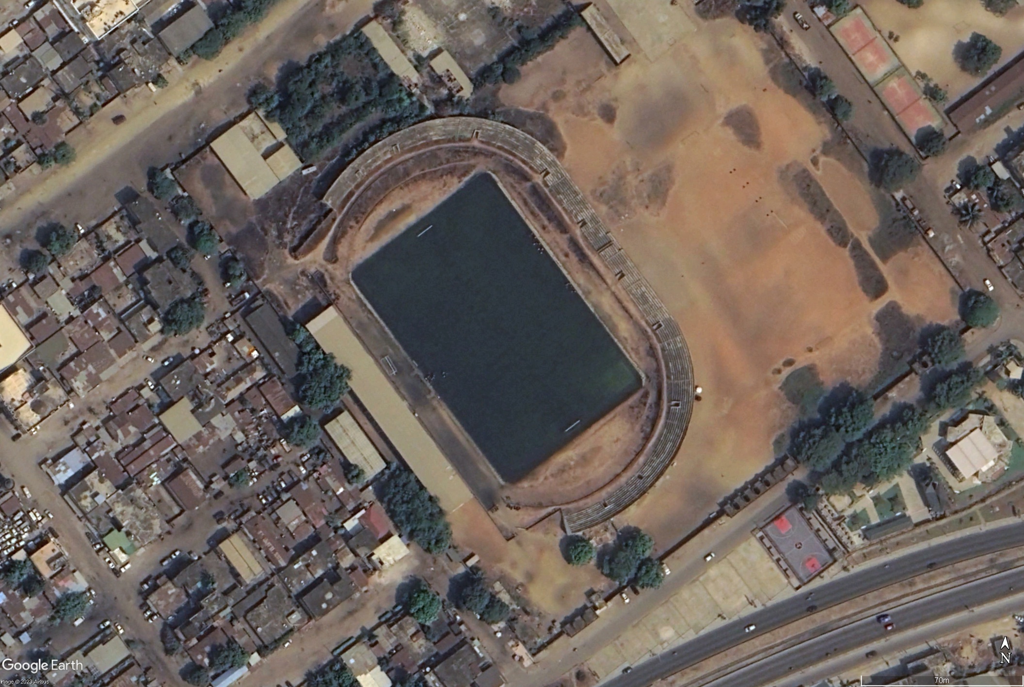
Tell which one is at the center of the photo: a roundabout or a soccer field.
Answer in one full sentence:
Visible at the center of the photo is a soccer field.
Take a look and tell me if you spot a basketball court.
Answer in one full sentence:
Yes, there's a basketball court down there.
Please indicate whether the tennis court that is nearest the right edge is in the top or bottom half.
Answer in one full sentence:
The tennis court that is nearest the right edge is in the top half of the image.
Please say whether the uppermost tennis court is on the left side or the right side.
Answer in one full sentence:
You can find the uppermost tennis court on the right side of the picture.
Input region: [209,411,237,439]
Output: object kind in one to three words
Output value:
house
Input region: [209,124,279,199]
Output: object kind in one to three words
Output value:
building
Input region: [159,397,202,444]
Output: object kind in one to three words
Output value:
house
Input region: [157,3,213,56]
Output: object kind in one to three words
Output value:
building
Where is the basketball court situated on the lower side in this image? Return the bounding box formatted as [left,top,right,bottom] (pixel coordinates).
[762,508,835,582]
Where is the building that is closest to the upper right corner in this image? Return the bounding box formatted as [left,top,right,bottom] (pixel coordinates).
[950,58,1024,130]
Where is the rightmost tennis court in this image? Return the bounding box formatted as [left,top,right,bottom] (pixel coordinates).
[875,67,946,143]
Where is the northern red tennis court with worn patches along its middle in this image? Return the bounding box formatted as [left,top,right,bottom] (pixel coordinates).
[830,8,900,84]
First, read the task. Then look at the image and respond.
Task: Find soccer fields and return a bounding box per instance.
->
[349,169,646,487]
